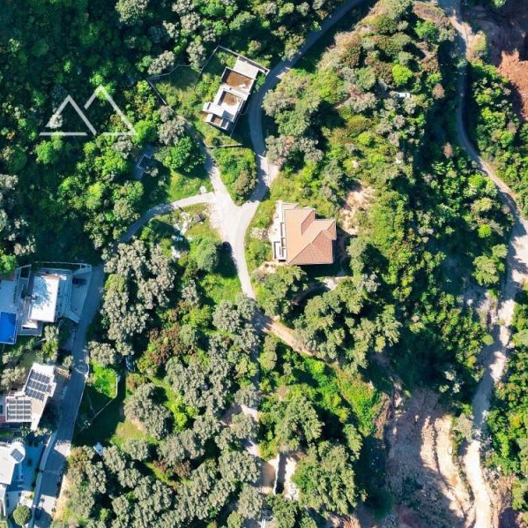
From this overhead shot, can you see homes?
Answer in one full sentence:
Yes, the frame does contain a home.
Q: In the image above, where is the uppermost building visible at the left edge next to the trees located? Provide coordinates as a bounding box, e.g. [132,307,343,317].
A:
[0,263,90,345]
